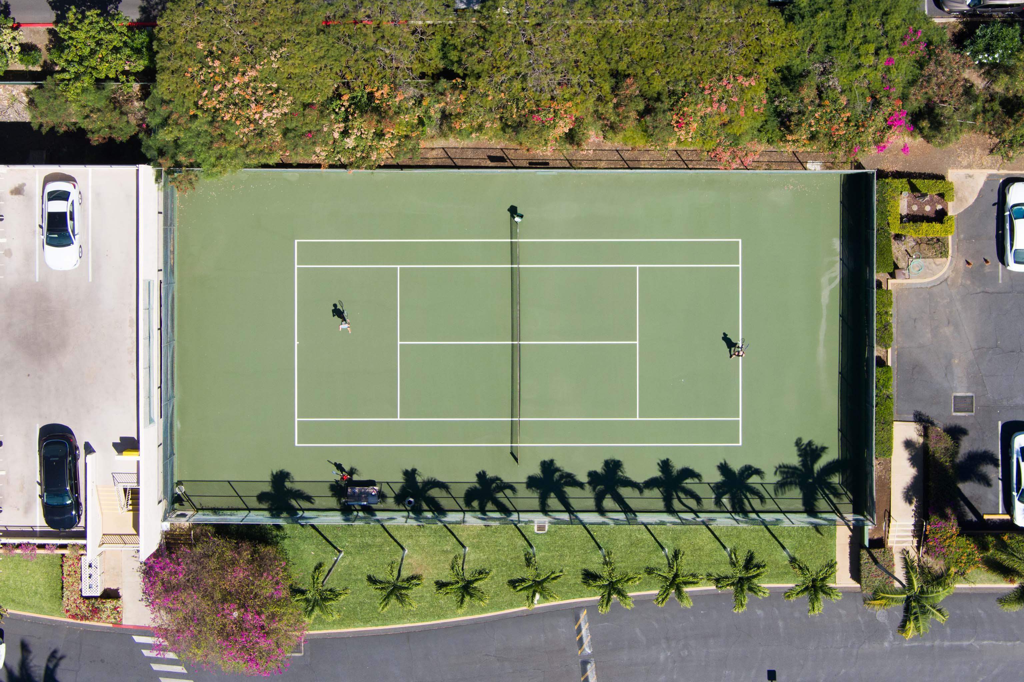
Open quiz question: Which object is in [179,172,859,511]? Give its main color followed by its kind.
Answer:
green tennis court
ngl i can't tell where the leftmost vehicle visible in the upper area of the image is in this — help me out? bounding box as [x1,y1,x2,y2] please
[34,177,81,270]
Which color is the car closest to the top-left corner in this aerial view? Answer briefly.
white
